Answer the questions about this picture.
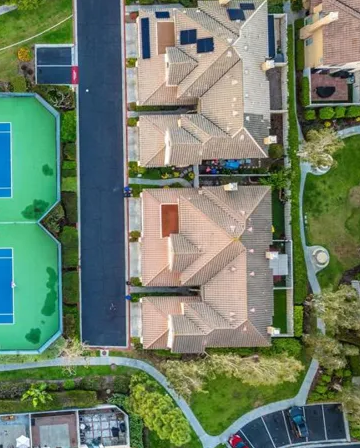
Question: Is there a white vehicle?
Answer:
No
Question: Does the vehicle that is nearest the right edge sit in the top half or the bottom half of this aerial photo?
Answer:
bottom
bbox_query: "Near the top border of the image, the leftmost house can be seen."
[135,0,278,167]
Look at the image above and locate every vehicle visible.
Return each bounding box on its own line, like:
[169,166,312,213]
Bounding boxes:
[287,404,312,441]
[231,435,252,448]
